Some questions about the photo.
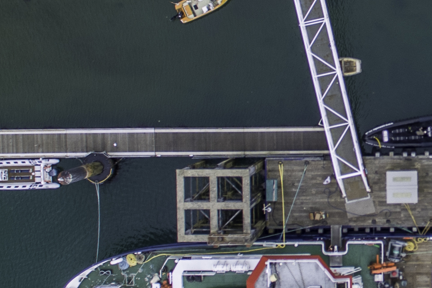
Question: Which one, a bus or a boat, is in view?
boat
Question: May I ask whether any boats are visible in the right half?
Yes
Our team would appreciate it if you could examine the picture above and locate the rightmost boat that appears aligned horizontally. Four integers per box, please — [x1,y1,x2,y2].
[363,115,432,149]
